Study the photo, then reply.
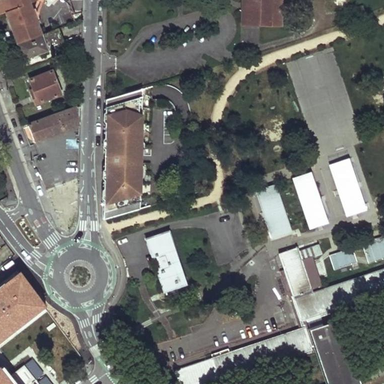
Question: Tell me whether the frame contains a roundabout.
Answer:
Yes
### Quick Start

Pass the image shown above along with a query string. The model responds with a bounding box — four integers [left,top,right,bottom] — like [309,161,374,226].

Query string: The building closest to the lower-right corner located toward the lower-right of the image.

[310,321,360,384]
